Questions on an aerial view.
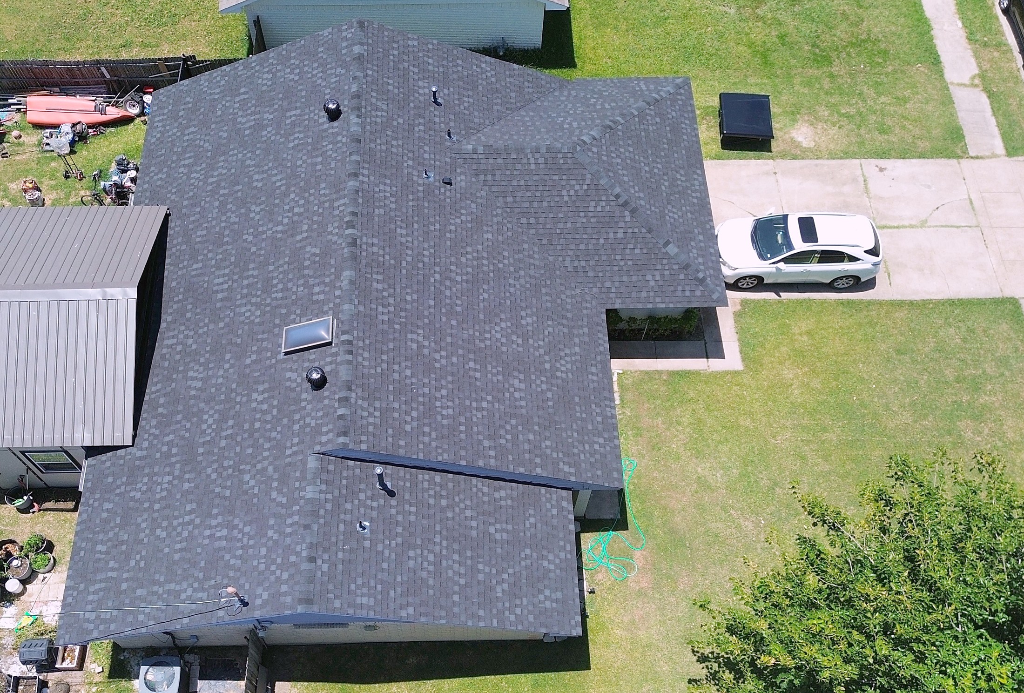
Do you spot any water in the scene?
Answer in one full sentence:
No, there is no water in the image.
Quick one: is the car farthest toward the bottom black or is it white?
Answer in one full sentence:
The car farthest toward the bottom looks white in the image.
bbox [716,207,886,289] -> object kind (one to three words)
car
